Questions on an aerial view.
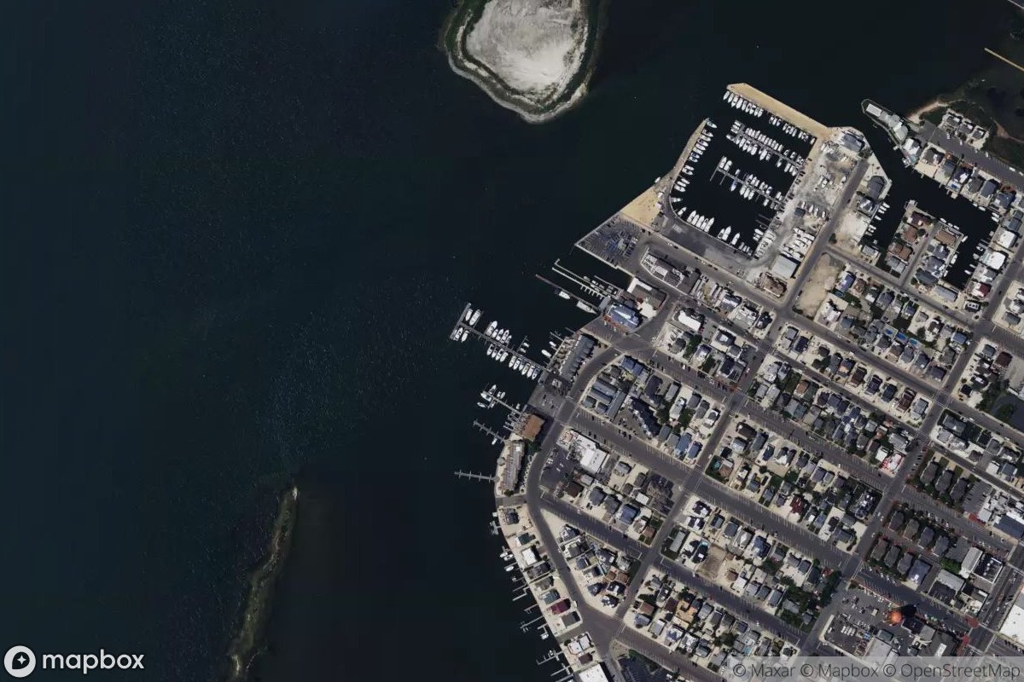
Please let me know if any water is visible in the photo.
Yes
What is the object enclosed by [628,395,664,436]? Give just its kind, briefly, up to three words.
building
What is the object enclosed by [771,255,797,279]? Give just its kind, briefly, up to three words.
shed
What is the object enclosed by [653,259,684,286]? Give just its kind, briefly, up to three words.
building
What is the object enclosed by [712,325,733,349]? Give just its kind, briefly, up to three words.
house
